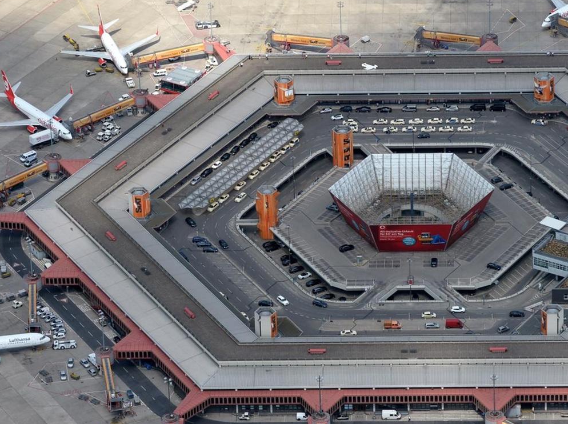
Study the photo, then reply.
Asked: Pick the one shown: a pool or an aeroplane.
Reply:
aeroplane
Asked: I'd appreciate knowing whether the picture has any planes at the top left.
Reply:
Yes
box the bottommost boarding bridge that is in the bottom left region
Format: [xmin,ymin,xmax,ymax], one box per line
[101,358,123,412]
